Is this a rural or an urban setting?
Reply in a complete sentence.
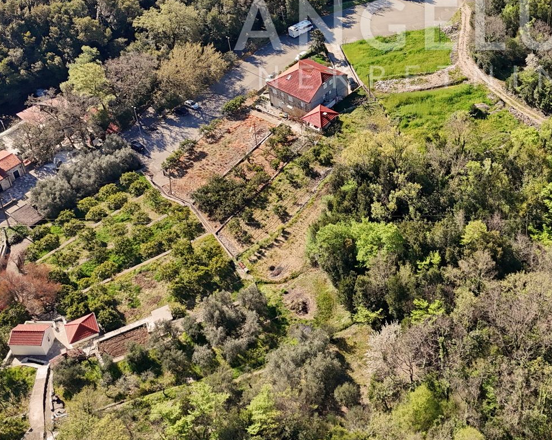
It looks rural.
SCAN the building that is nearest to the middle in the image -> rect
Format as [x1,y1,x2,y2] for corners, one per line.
[299,108,340,140]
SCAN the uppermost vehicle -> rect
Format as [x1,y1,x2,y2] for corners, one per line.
[287,21,314,39]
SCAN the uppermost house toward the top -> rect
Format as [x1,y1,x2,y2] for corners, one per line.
[265,54,339,117]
